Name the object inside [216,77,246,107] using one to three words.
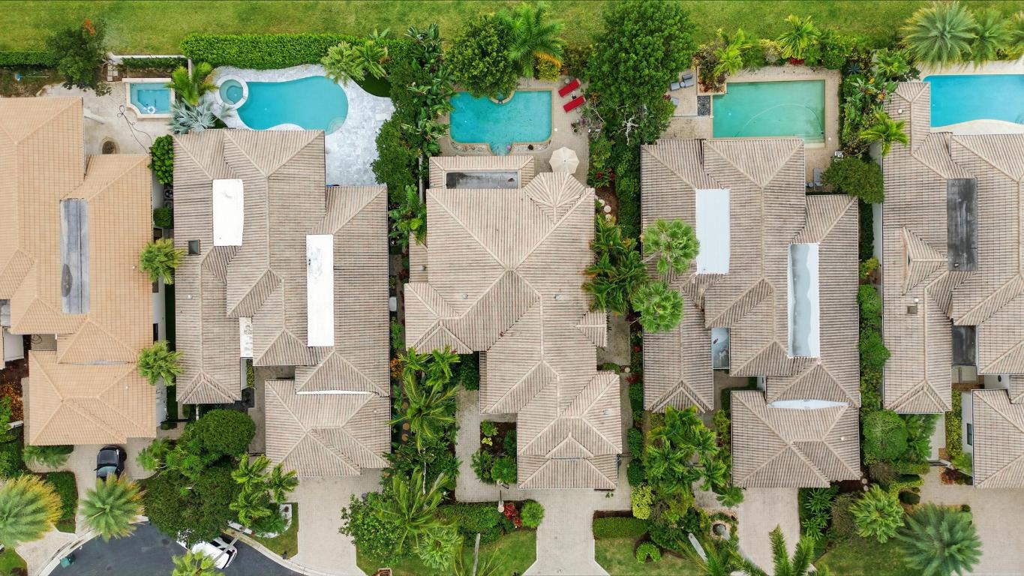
swimming pool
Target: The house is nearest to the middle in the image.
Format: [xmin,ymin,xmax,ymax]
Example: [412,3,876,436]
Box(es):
[403,155,623,489]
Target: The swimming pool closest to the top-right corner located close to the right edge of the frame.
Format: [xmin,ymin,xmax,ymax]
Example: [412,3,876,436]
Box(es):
[919,69,1024,132]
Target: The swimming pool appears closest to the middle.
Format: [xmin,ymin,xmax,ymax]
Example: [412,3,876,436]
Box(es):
[447,87,555,156]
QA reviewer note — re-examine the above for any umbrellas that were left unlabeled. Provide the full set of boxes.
[549,146,578,173]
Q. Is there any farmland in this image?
No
